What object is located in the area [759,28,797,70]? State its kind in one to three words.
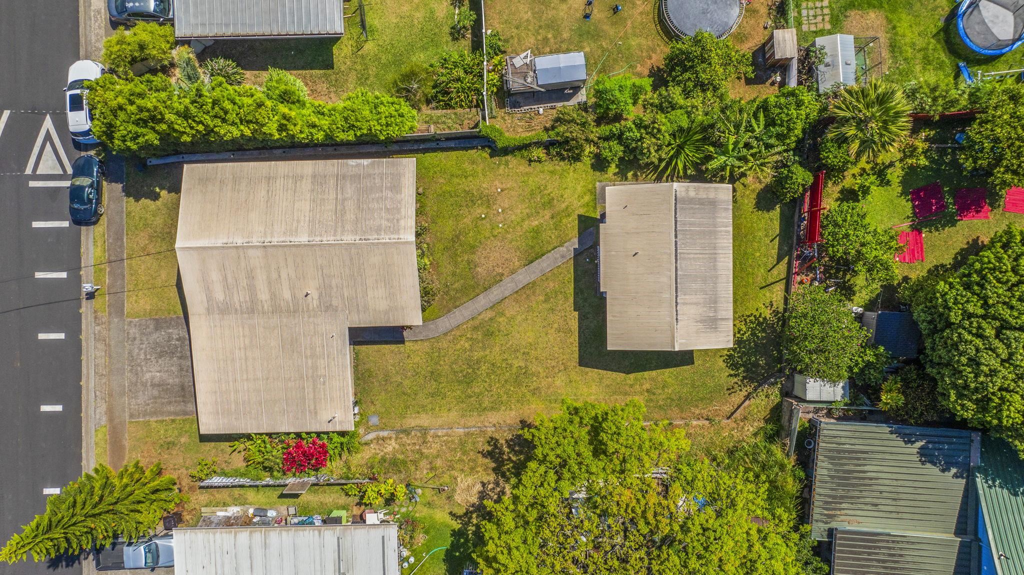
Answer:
shed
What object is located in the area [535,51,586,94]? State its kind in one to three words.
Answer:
shed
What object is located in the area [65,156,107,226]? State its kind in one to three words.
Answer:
car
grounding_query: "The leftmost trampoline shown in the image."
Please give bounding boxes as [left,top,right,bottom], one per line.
[658,0,744,42]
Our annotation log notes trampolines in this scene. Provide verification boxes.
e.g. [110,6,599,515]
[956,0,1024,53]
[658,0,744,42]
